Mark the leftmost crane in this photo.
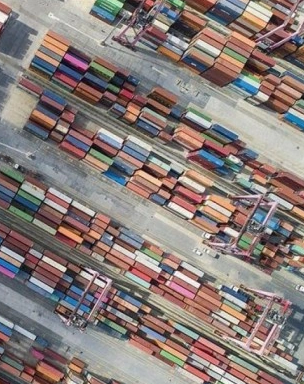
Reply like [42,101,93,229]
[52,264,118,339]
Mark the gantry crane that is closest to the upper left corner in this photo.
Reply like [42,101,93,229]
[108,0,169,52]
